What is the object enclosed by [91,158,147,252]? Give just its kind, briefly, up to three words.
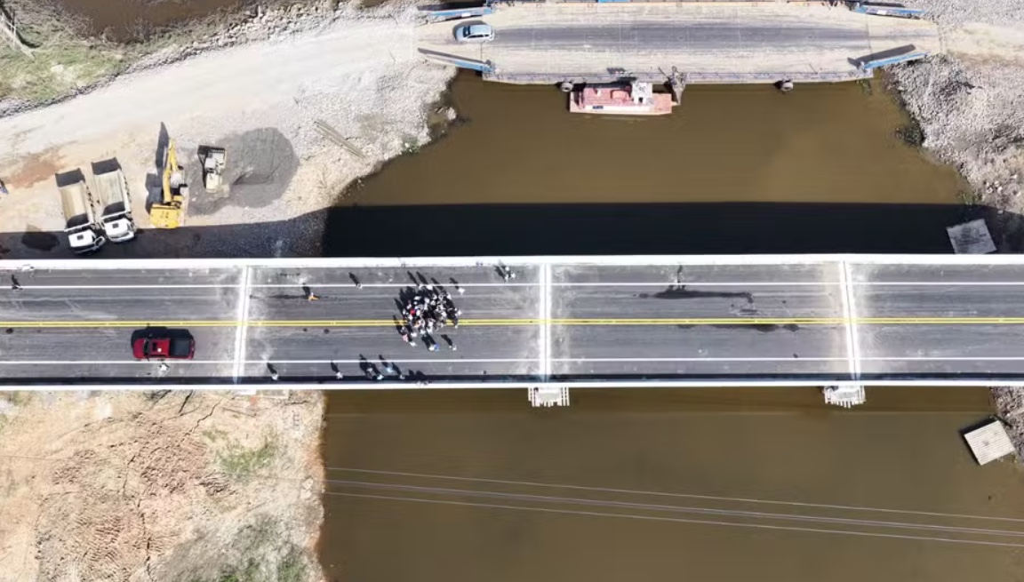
truck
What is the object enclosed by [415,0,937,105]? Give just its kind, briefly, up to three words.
ship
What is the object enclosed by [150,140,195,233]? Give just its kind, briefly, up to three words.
work vehicle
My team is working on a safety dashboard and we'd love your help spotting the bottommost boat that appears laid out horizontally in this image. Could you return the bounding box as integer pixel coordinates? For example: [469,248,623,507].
[569,82,676,115]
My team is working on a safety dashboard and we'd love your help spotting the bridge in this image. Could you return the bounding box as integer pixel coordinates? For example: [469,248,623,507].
[0,254,1024,406]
